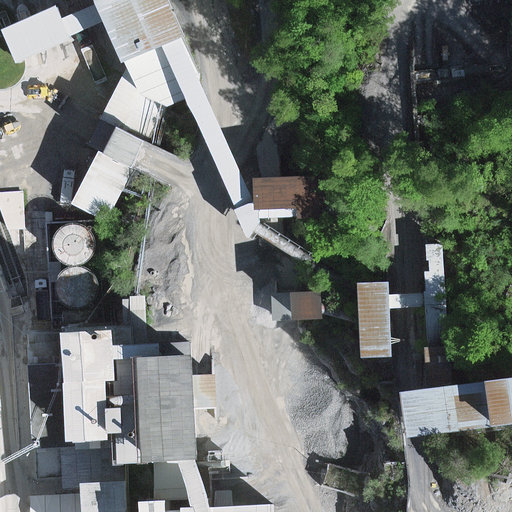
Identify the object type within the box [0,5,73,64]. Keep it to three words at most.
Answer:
building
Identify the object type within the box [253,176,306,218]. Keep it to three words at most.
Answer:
house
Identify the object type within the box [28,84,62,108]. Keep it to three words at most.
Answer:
work vehicle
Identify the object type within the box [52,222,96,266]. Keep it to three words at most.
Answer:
storage tank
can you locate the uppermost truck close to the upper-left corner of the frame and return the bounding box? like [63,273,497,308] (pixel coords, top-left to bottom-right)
[76,32,106,84]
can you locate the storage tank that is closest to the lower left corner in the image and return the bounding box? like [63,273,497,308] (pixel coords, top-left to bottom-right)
[54,266,100,310]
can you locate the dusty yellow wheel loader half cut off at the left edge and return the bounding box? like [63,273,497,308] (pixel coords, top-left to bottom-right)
[0,116,26,141]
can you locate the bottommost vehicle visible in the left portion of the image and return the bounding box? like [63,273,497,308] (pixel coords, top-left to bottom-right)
[60,169,76,205]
